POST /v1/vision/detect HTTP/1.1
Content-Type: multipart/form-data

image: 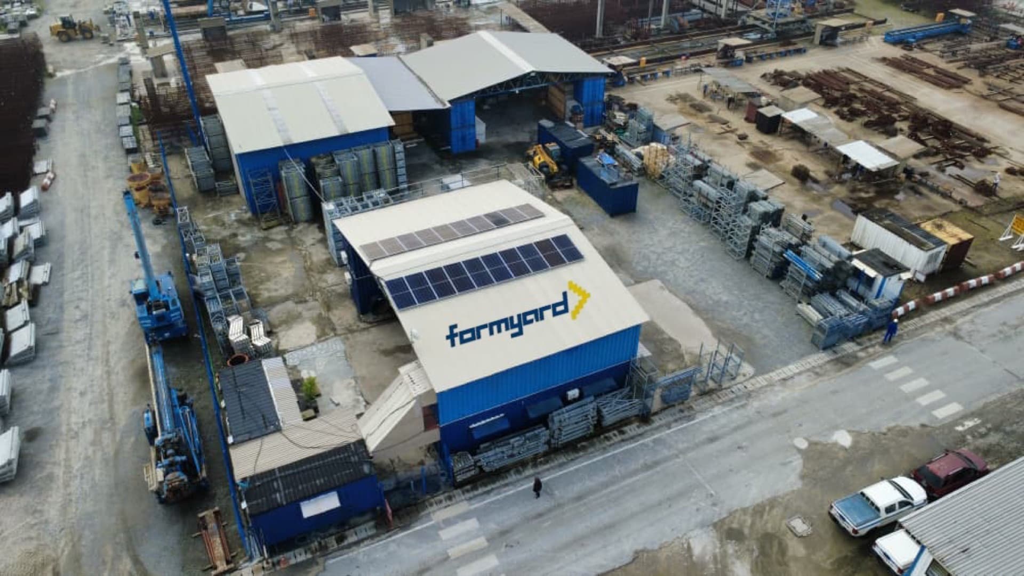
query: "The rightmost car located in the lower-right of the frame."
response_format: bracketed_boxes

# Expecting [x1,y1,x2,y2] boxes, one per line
[905,445,988,497]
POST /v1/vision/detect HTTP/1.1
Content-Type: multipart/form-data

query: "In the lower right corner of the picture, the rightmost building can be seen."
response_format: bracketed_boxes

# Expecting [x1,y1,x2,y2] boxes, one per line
[893,459,1024,576]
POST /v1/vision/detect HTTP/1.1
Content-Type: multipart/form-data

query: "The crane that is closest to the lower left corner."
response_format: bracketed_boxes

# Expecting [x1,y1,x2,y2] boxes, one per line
[135,336,209,503]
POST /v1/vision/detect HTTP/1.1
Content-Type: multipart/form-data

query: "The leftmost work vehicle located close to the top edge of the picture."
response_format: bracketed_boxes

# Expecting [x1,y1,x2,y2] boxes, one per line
[46,11,106,42]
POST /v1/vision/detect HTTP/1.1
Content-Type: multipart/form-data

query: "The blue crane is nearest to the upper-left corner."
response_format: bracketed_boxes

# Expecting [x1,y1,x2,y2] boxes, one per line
[121,188,188,347]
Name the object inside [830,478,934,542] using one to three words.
truck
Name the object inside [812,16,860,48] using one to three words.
shed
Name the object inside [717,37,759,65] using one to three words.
shed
